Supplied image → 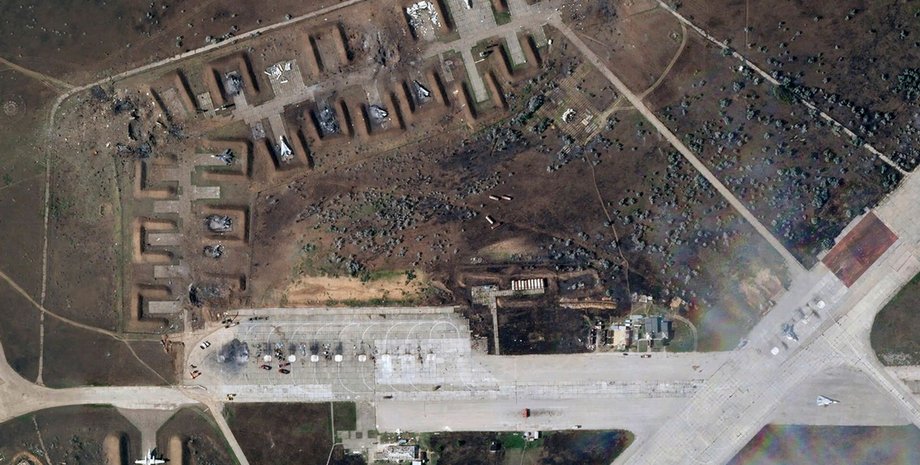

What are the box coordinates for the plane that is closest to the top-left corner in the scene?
[212,150,234,164]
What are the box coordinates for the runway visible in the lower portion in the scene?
[612,164,920,465]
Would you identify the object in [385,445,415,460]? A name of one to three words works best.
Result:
building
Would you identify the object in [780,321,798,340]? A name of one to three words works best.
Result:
airplane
